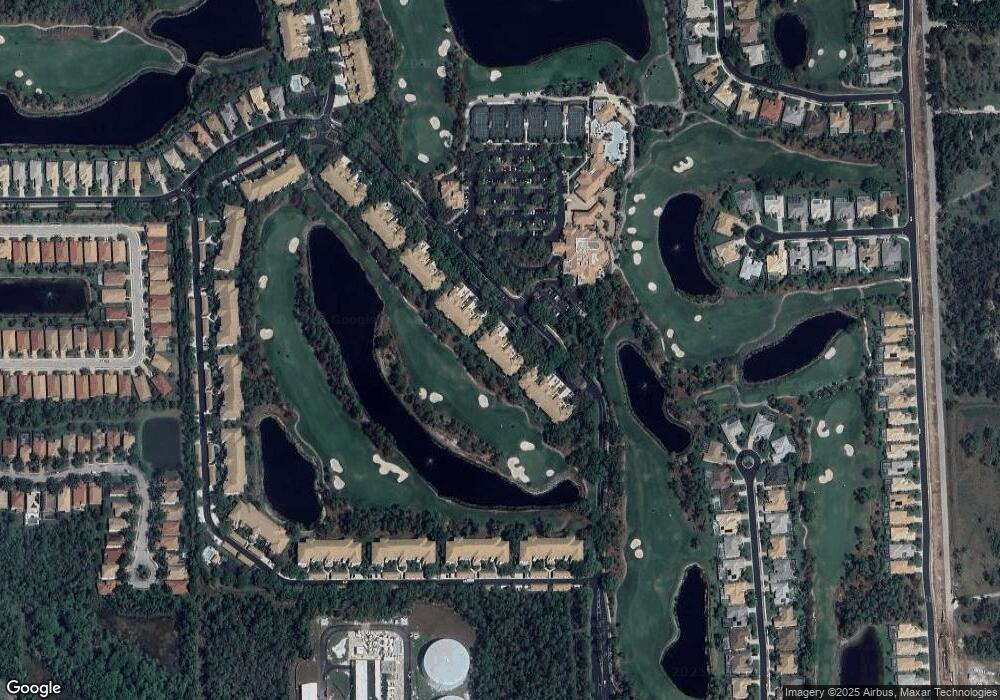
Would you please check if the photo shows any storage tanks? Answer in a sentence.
Yes, this view includes a storage tank.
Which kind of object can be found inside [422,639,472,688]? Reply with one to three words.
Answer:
storage tank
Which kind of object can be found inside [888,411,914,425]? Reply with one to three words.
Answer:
house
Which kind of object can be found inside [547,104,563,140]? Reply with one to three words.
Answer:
tennis court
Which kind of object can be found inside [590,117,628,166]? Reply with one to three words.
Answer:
swimming pool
